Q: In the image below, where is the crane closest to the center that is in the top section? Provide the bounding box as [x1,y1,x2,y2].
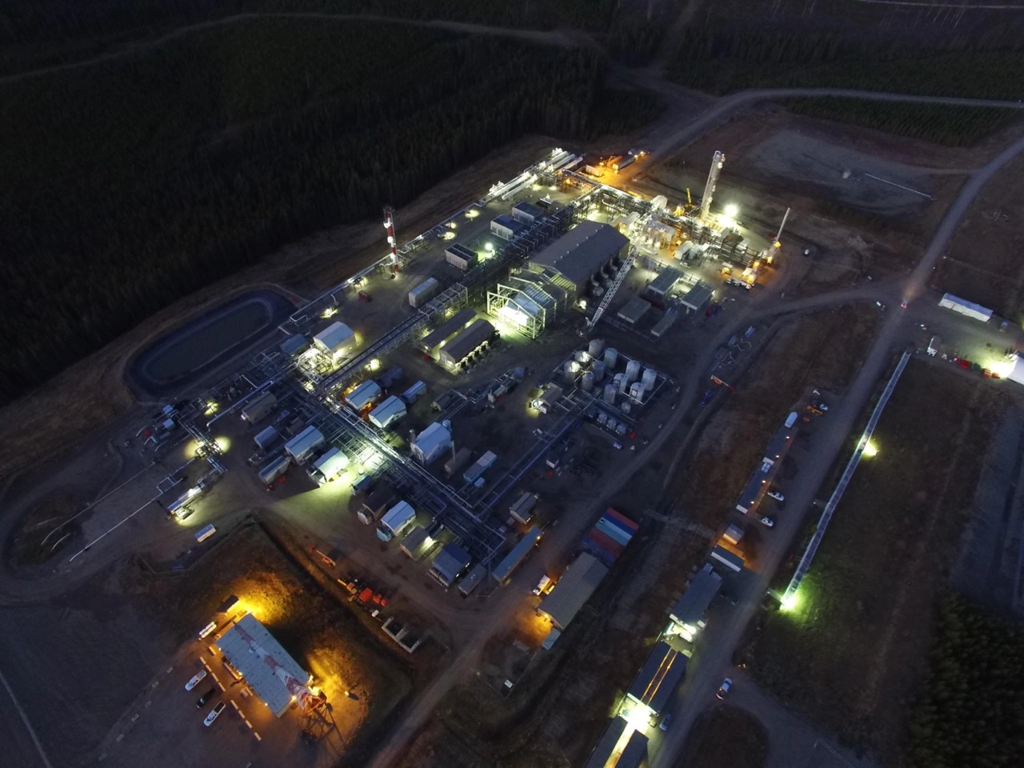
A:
[572,244,639,334]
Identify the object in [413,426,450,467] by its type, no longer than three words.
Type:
building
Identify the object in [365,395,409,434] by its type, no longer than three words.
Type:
shed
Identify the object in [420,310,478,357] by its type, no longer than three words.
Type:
shed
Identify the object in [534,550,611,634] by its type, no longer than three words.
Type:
building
